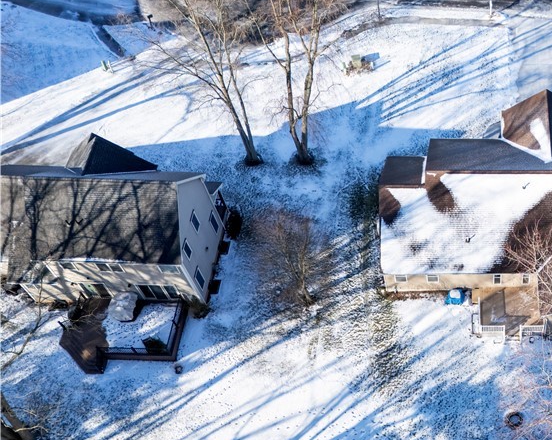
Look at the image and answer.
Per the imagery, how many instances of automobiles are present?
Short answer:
0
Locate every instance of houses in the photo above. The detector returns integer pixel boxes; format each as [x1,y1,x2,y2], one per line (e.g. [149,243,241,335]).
[377,90,552,336]
[0,137,232,304]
